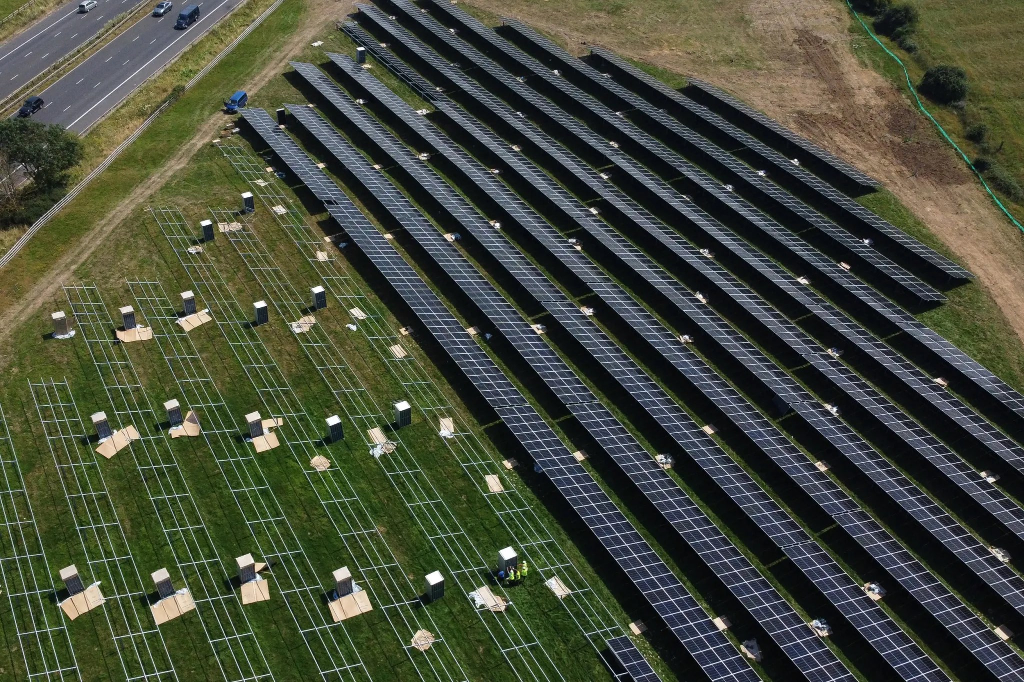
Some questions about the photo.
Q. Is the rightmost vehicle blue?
Yes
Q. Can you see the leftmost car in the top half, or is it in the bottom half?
top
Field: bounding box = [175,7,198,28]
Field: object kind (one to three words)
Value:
vehicle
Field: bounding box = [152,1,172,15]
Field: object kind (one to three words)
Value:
car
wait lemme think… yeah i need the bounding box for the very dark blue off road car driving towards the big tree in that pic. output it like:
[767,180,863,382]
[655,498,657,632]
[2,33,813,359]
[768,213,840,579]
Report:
[16,93,44,116]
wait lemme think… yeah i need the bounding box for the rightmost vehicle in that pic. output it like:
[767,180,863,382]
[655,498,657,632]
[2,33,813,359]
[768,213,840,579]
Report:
[220,87,250,113]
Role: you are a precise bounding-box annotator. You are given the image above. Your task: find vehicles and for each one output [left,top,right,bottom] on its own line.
[220,87,250,113]
[16,93,44,116]
[175,7,198,28]
[77,0,98,12]
[152,1,172,15]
